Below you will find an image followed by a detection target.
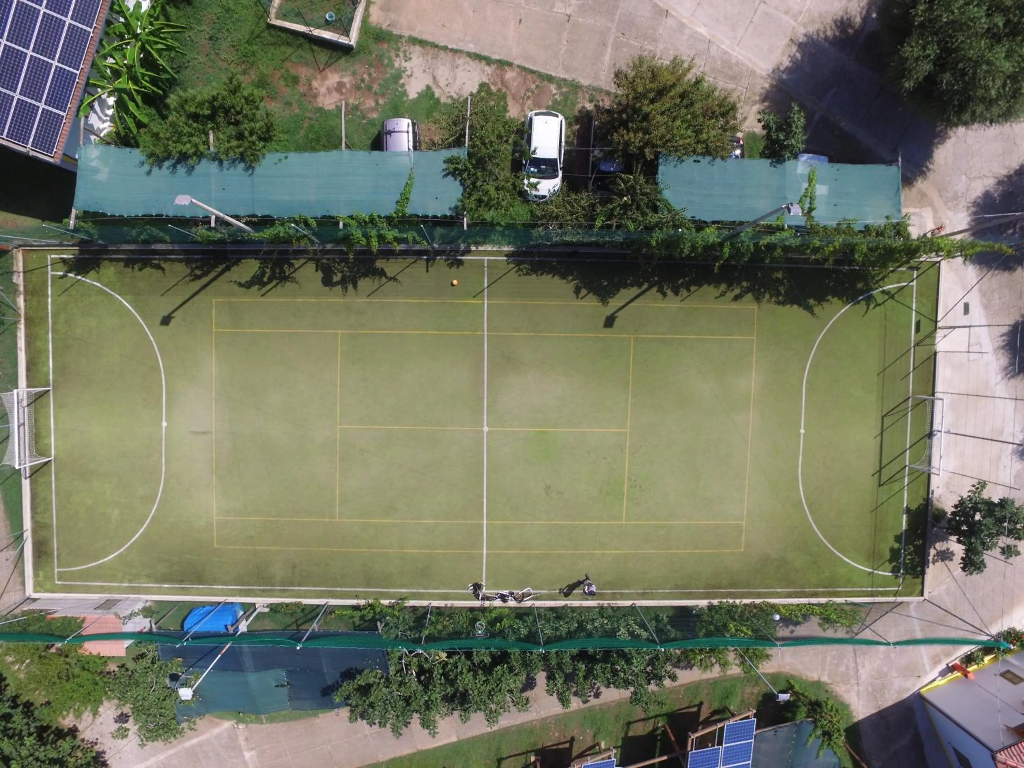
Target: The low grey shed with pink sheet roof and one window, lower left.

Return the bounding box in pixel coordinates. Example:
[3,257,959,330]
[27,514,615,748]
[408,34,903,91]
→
[26,603,170,656]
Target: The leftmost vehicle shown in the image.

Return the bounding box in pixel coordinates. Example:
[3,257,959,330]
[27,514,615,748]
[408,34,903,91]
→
[381,108,422,152]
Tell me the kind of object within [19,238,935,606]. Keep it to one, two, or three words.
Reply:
sports field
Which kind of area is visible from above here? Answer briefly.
sports ground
